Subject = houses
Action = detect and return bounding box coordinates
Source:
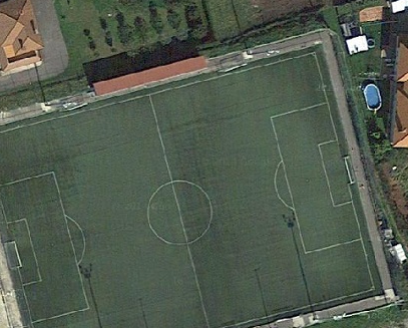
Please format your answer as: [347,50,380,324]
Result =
[387,42,408,148]
[0,0,45,73]
[386,0,408,13]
